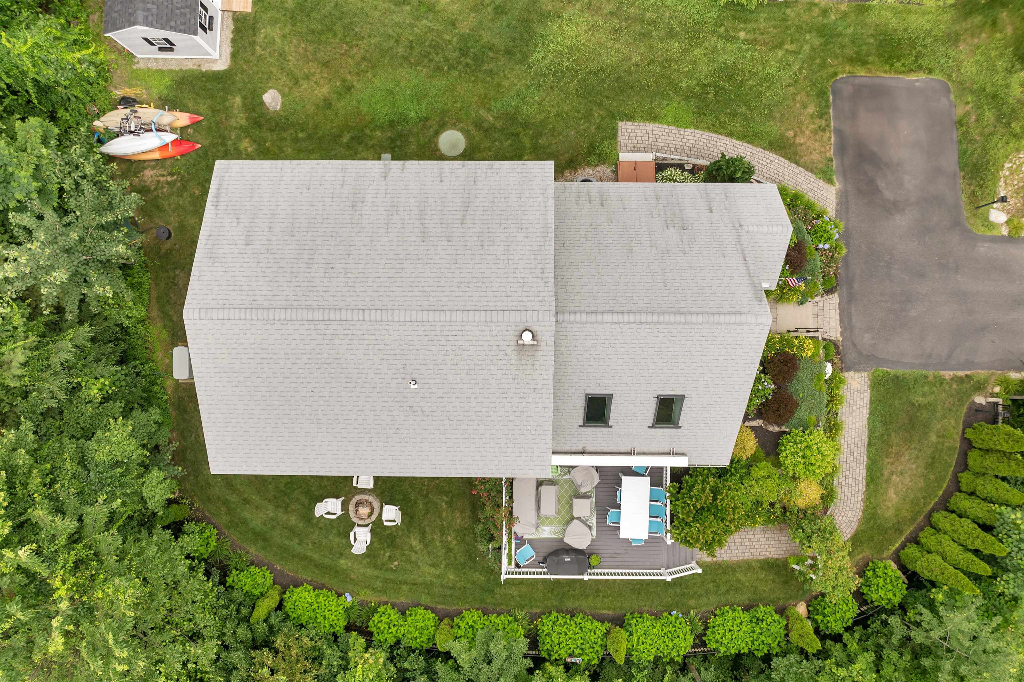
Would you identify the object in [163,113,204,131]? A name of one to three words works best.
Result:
boat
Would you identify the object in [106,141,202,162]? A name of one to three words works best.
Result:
boat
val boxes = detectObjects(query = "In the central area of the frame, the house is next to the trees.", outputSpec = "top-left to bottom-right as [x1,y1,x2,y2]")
[183,158,794,476]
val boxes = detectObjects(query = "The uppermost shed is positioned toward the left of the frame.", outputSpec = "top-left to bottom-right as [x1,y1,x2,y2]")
[103,0,220,58]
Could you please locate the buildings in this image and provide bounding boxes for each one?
[103,0,220,58]
[183,158,794,476]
